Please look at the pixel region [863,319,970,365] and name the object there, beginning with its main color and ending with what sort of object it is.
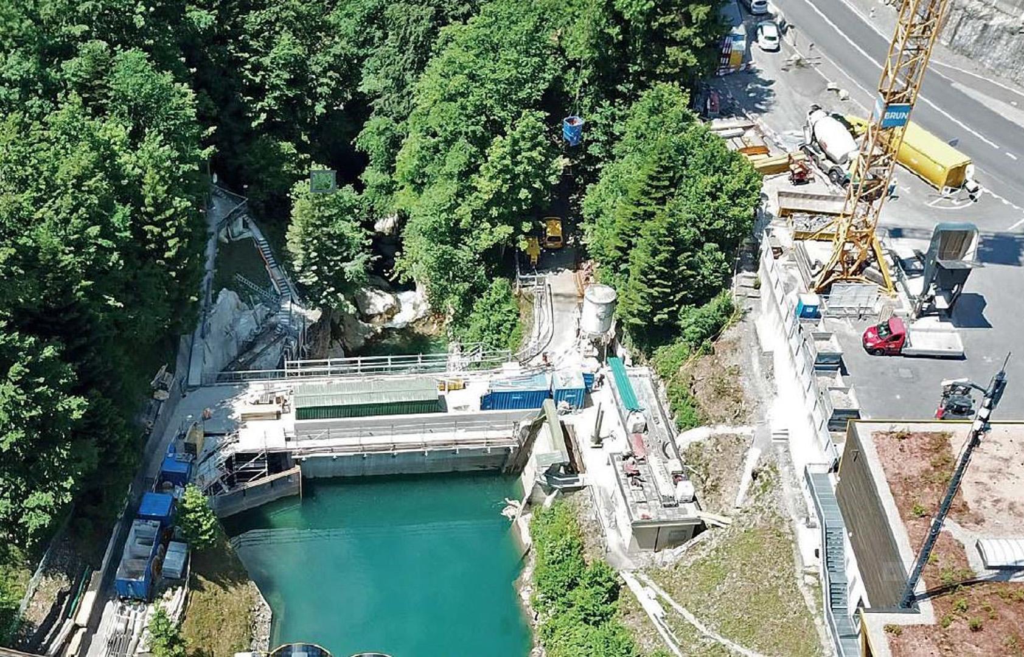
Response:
white truck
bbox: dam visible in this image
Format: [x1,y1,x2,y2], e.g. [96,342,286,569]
[295,407,525,474]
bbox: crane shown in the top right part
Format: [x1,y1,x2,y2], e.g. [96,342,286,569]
[800,0,945,298]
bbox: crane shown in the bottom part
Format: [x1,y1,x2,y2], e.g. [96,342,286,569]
[522,401,580,494]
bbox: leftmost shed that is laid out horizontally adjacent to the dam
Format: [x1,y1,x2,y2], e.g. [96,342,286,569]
[291,375,447,420]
